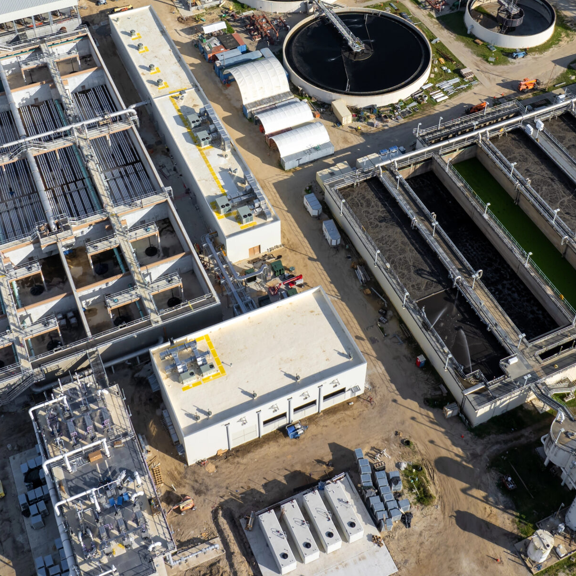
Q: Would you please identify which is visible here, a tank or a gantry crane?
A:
tank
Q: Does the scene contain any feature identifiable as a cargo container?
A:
Yes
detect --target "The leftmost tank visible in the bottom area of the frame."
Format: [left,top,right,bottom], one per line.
[259,509,297,576]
